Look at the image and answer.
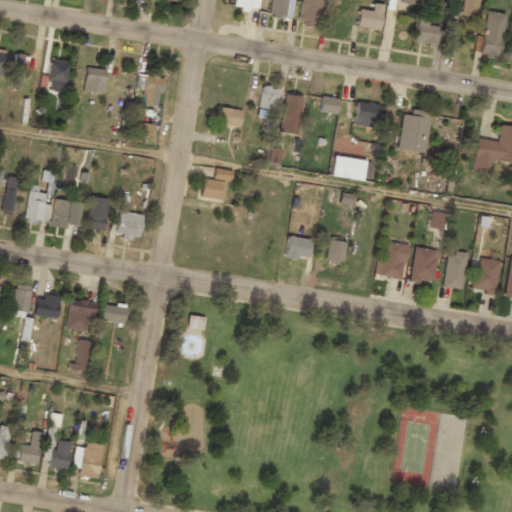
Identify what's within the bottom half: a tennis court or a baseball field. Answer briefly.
tennis court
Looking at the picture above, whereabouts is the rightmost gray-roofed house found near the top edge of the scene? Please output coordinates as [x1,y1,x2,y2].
[482,10,508,58]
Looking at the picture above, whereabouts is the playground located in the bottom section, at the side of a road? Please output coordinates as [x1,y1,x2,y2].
[160,404,205,459]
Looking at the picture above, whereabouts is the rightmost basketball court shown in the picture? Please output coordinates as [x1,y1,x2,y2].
[430,414,466,491]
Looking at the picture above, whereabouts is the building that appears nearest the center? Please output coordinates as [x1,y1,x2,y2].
[287,236,313,259]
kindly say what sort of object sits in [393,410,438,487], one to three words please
tennis court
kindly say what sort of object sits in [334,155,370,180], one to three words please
building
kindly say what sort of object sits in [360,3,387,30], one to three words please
house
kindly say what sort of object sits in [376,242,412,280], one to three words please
house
